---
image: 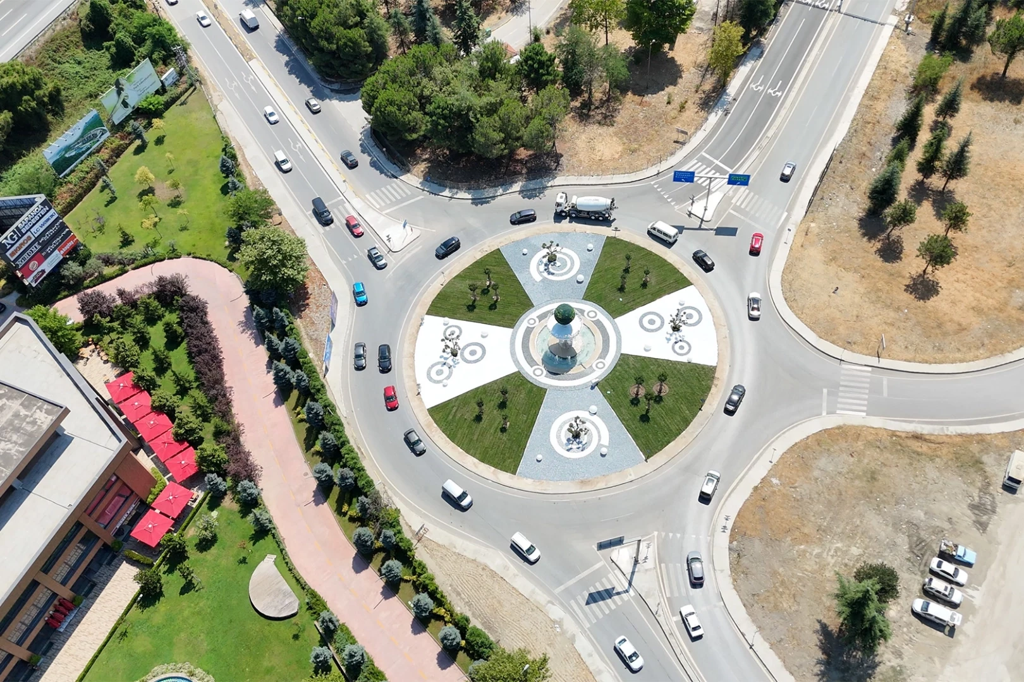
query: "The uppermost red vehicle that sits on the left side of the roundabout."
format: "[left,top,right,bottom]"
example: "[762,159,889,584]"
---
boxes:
[344,214,364,238]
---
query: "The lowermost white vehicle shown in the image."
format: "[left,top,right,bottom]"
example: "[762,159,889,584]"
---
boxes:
[610,630,647,677]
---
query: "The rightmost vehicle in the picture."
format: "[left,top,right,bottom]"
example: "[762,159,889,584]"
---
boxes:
[994,439,1024,497]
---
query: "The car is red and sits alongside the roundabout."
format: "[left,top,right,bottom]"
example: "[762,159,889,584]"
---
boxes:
[382,383,400,413]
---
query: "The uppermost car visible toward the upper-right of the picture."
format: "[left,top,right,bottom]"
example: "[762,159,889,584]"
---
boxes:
[778,161,796,183]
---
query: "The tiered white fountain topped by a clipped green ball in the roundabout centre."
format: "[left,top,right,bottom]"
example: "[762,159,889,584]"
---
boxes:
[529,301,599,371]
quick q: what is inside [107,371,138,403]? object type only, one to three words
umbrella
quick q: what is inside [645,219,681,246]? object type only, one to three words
vehicle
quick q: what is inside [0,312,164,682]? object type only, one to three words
building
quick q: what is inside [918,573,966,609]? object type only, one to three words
car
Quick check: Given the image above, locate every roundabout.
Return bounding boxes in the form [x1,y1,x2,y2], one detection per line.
[402,223,733,495]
